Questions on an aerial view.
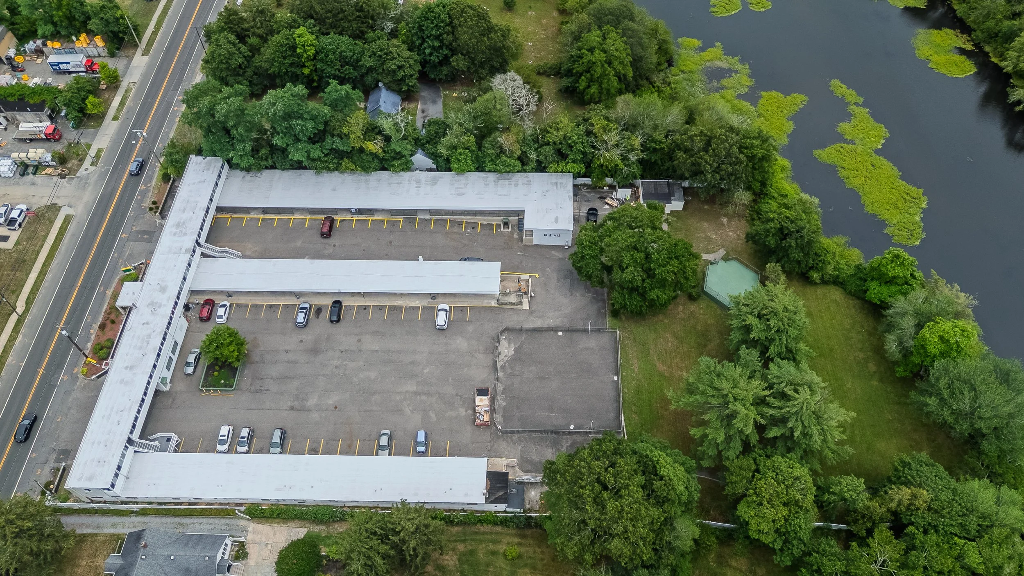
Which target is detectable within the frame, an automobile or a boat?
automobile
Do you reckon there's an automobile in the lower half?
Yes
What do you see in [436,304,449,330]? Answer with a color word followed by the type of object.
white vehicle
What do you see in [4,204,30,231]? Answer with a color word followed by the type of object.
white truck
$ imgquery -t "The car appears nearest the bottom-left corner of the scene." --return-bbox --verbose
[15,413,38,443]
